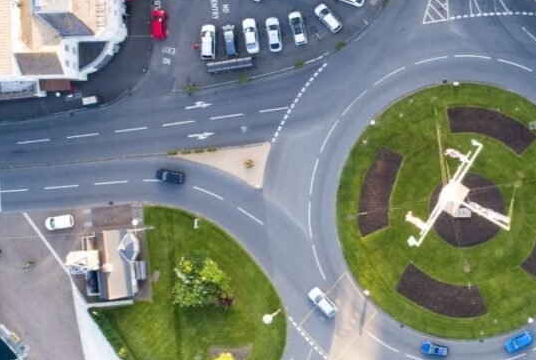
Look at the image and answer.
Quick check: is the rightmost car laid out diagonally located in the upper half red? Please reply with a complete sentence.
No, the rightmost car laid out diagonally located in the upper half is white.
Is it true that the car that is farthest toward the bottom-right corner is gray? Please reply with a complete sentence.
No, the color of the car that is farthest toward the bottom-right corner is blue.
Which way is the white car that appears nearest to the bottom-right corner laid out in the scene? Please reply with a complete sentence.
The white car that appears nearest to the bottom-right corner is oriented diagonally.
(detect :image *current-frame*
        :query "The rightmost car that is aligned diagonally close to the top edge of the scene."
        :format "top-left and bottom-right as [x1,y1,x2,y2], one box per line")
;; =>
[311,2,343,34]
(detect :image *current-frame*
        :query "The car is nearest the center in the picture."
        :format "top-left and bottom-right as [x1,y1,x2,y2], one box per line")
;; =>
[152,167,186,185]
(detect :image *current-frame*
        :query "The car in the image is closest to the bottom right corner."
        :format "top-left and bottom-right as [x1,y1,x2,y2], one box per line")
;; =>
[502,331,535,354]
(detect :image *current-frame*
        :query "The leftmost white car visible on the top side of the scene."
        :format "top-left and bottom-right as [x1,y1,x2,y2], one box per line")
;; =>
[196,23,215,59]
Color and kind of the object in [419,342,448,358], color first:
blue car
